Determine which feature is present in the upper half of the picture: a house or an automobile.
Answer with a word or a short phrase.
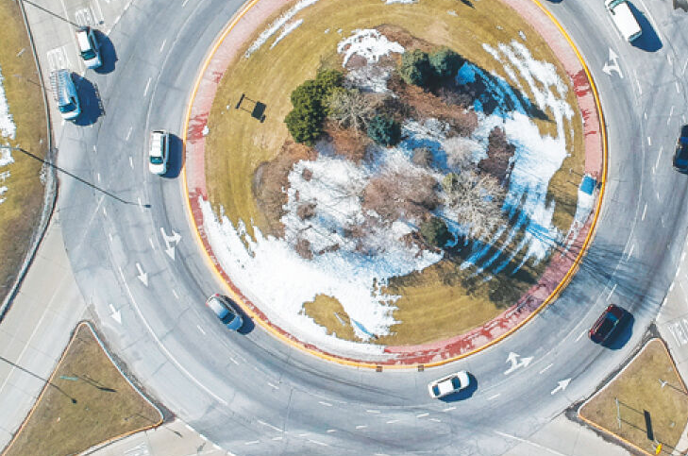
automobile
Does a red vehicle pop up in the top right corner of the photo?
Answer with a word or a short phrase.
No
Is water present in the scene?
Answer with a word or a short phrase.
No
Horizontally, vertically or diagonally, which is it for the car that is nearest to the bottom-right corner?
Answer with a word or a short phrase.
diagonally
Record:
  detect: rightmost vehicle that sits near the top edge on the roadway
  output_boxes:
[606,0,643,42]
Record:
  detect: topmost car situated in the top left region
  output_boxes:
[73,24,102,70]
